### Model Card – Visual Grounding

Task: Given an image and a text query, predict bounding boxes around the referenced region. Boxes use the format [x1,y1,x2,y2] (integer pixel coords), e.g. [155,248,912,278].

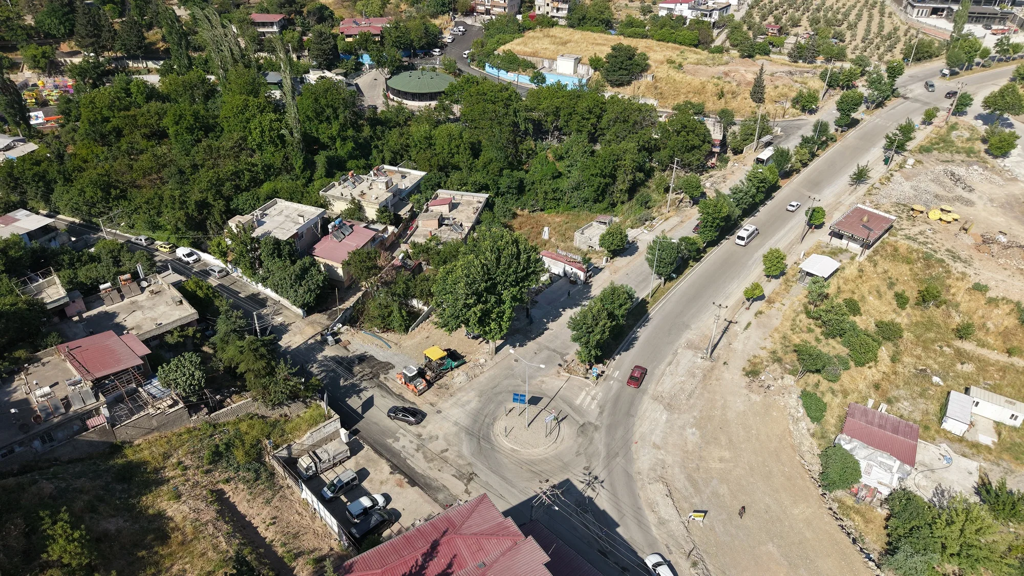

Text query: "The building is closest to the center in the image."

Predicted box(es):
[540,249,588,289]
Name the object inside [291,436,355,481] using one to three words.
truck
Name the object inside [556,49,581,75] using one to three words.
building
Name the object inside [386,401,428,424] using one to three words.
car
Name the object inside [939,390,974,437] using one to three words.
shed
